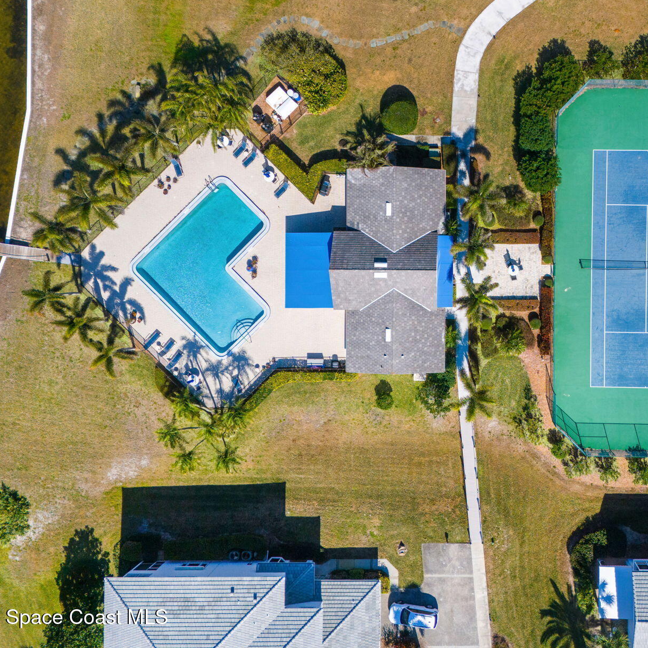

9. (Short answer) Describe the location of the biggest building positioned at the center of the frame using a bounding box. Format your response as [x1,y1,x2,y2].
[285,167,453,375]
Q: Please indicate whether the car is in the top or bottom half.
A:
bottom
